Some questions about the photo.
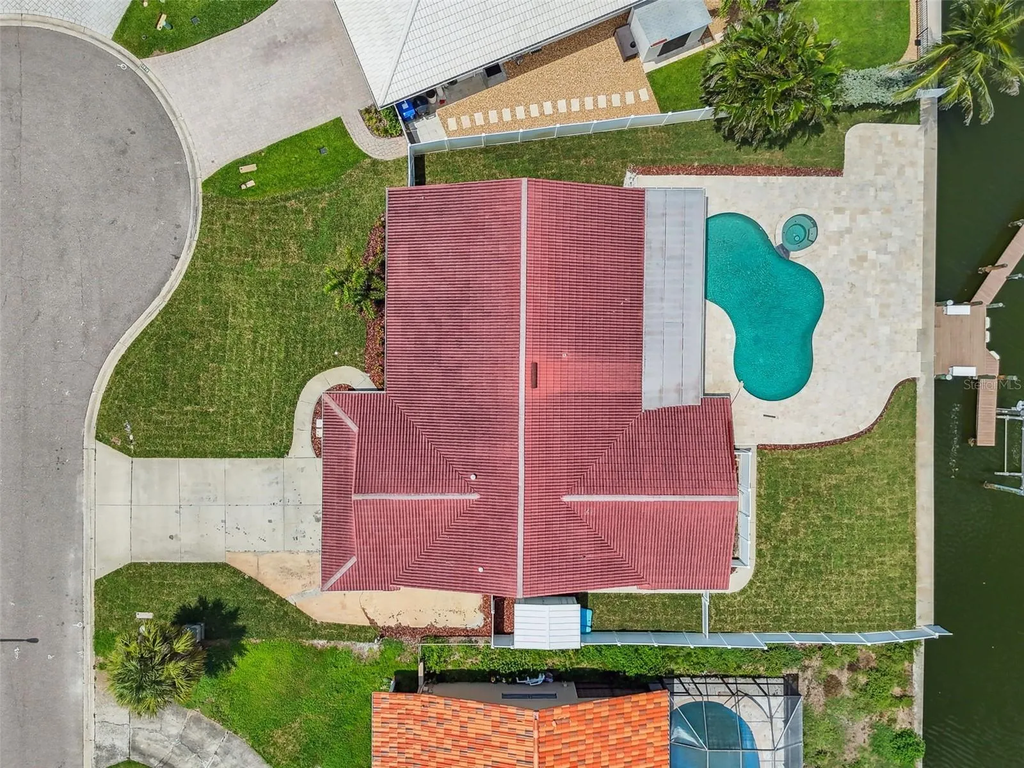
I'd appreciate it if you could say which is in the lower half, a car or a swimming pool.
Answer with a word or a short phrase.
swimming pool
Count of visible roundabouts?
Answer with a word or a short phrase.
0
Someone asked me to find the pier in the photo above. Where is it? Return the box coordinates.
[934,213,1024,446]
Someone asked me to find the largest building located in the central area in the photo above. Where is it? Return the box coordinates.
[317,175,740,599]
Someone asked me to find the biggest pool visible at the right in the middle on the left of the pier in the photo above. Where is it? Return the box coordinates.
[709,208,828,404]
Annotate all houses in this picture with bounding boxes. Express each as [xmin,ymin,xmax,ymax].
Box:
[317,175,740,599]
[370,682,673,768]
[337,0,659,111]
